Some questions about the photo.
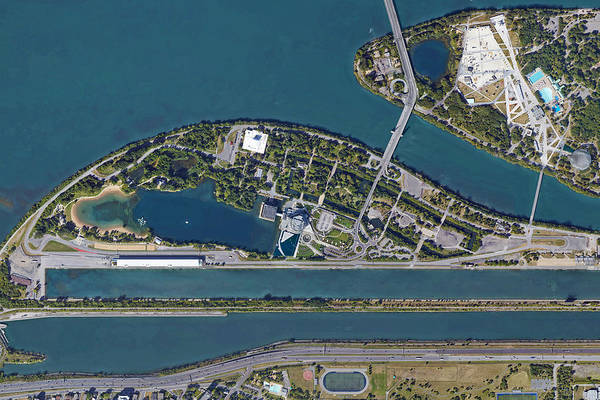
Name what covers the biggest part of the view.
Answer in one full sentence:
The scene is dominated by water.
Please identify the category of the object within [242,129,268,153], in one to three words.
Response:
building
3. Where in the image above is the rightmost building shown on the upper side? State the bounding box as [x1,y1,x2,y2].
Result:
[571,149,593,170]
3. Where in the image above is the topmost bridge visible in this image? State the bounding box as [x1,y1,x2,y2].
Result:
[382,0,415,155]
